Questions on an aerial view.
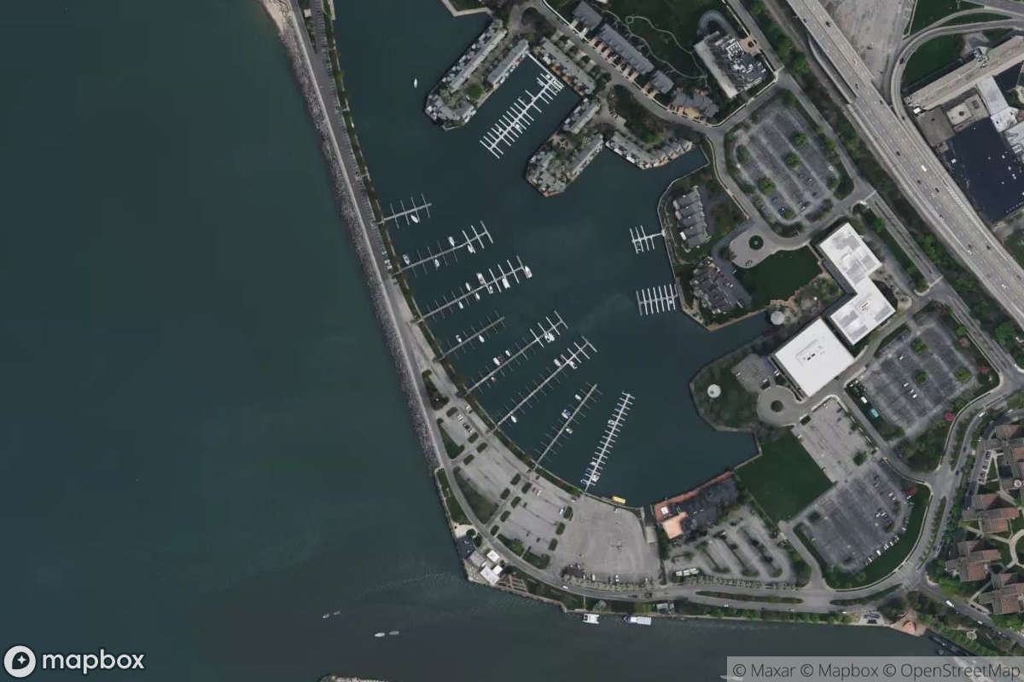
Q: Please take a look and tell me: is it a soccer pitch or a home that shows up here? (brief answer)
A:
home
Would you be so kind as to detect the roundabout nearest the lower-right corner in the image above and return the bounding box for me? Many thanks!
[759,386,796,423]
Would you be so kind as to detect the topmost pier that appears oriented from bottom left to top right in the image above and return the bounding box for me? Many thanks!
[480,59,564,158]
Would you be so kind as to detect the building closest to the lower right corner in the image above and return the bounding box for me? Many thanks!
[977,574,1024,613]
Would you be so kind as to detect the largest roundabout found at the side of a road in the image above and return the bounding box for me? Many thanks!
[730,222,805,267]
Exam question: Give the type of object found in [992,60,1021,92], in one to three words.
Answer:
shed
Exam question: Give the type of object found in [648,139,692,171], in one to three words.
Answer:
house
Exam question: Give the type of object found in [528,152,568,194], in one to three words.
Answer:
house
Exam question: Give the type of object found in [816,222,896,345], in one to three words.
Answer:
building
